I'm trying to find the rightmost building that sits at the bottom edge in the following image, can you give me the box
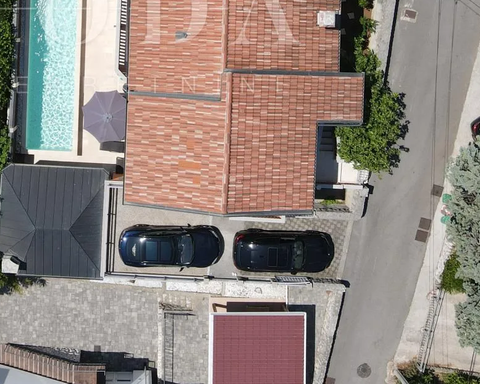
[209,298,307,384]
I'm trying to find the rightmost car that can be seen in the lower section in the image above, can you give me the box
[232,227,335,278]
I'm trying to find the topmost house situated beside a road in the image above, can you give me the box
[117,0,366,217]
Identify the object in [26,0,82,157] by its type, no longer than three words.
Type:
swimming pool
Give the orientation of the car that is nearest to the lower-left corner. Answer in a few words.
from left to right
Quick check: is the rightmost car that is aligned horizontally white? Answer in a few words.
No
